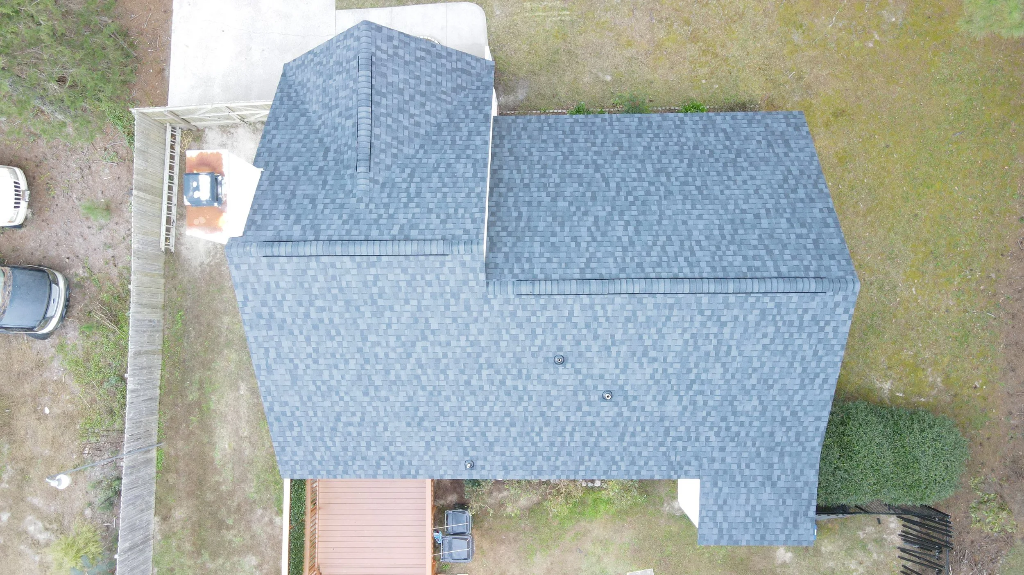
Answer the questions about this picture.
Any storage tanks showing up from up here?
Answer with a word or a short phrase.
No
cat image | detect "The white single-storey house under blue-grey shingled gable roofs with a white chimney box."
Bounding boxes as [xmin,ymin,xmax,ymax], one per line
[183,20,861,547]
